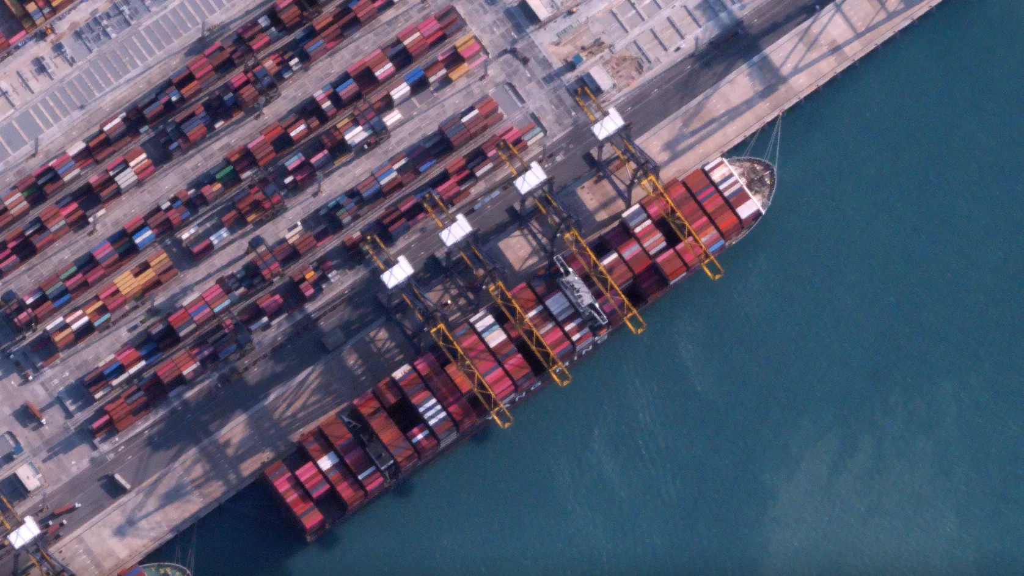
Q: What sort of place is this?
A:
port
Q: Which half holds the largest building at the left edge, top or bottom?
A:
bottom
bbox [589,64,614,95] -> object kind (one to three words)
building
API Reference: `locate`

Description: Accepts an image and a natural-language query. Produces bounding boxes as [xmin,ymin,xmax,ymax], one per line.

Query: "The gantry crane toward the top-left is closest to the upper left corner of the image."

[239,49,279,104]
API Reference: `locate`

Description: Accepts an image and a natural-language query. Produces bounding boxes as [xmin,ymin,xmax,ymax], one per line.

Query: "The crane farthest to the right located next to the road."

[576,85,722,280]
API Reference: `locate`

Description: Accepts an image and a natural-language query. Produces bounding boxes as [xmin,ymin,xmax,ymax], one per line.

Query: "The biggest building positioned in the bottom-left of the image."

[15,462,40,496]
